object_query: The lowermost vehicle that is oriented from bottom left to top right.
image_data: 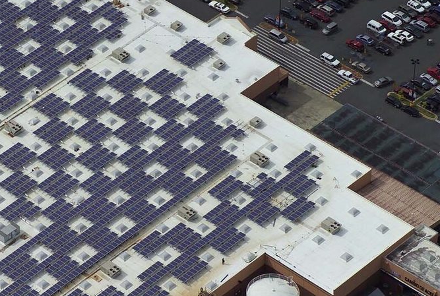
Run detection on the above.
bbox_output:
[374,74,393,90]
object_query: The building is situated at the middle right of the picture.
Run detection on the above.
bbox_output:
[310,103,440,206]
